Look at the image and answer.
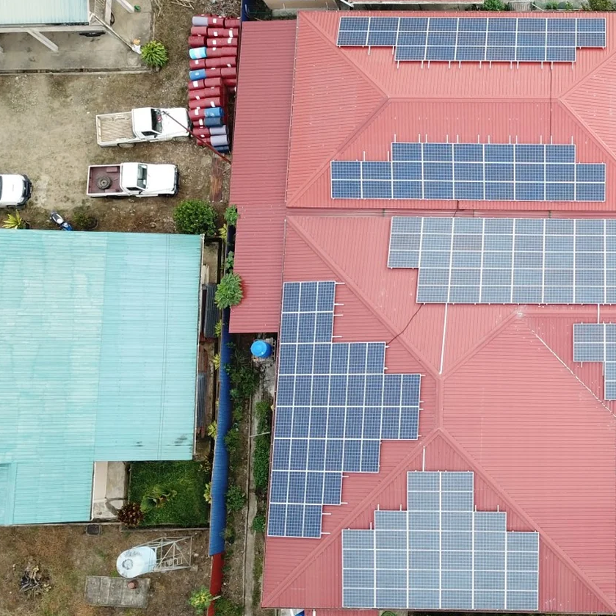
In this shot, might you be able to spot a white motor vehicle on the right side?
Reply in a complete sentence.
No, there is no white motor vehicle on the right side.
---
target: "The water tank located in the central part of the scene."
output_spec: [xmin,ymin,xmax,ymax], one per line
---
[251,338,275,366]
